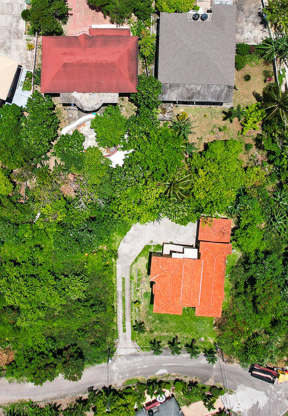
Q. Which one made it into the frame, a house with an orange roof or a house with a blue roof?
house with an orange roof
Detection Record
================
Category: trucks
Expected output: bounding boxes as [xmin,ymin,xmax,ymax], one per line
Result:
[249,360,288,387]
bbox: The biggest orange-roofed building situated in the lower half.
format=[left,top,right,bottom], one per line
[150,241,232,318]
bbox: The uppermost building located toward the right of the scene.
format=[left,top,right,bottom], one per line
[158,4,237,102]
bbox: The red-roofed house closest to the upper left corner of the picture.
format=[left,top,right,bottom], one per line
[40,24,138,111]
